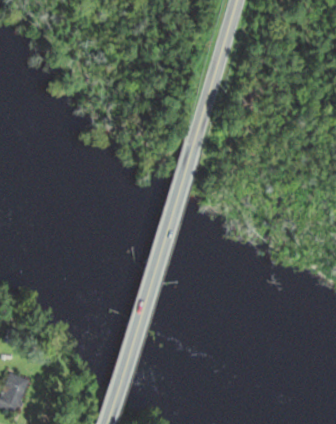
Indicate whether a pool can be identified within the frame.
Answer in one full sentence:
No, I can see no pool in this picture.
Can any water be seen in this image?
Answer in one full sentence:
Yes, there's water in this view.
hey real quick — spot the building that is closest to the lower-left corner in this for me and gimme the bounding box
[0,372,28,409]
